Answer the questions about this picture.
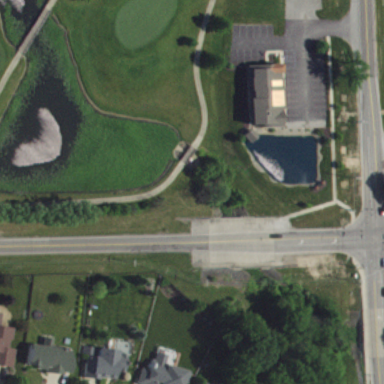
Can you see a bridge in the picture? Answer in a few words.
Yes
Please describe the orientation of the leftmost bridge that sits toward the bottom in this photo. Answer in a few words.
from left to right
